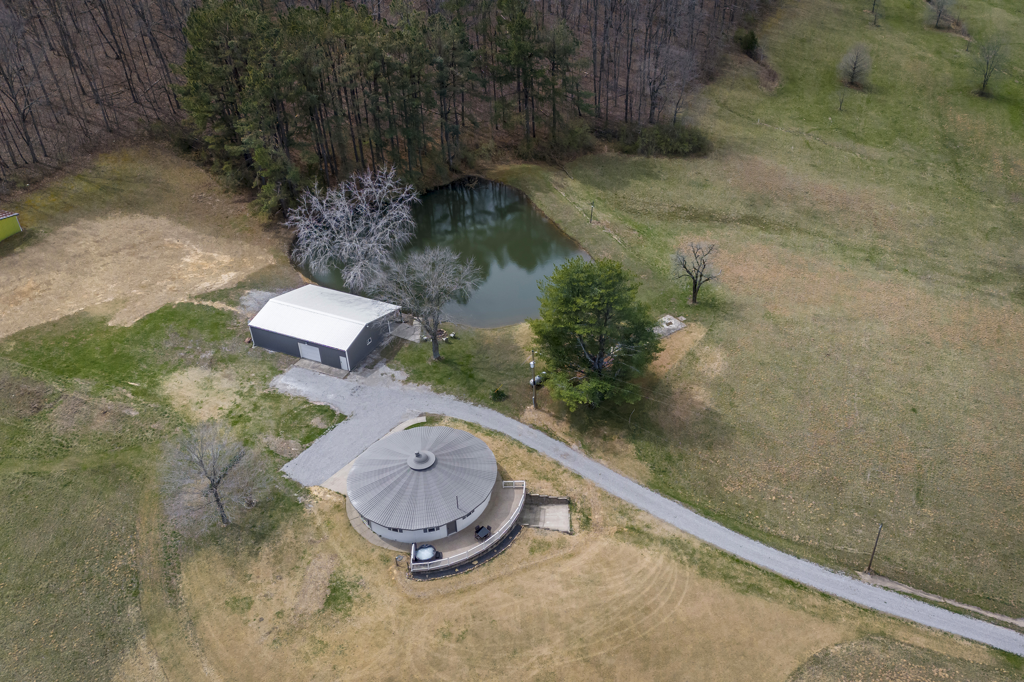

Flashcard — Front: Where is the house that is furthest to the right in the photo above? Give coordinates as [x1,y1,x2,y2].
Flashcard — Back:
[346,424,496,542]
